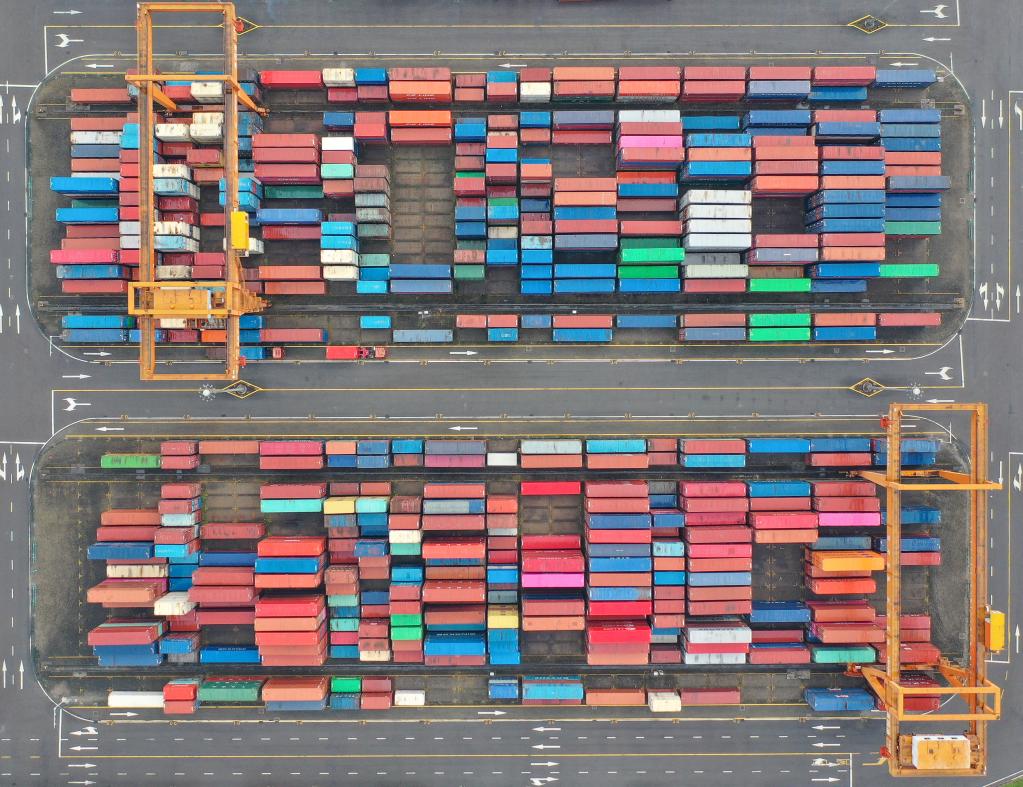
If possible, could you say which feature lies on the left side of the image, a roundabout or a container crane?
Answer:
container crane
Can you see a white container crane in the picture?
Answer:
No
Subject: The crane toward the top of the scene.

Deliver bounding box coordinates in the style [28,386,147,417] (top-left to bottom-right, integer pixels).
[122,1,279,381]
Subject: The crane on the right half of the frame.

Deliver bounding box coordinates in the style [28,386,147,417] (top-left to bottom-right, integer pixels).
[833,402,1004,777]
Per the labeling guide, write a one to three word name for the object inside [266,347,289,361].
vehicle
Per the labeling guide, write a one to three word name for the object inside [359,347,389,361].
vehicle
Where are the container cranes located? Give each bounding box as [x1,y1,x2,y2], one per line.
[833,402,1004,777]
[122,1,279,381]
